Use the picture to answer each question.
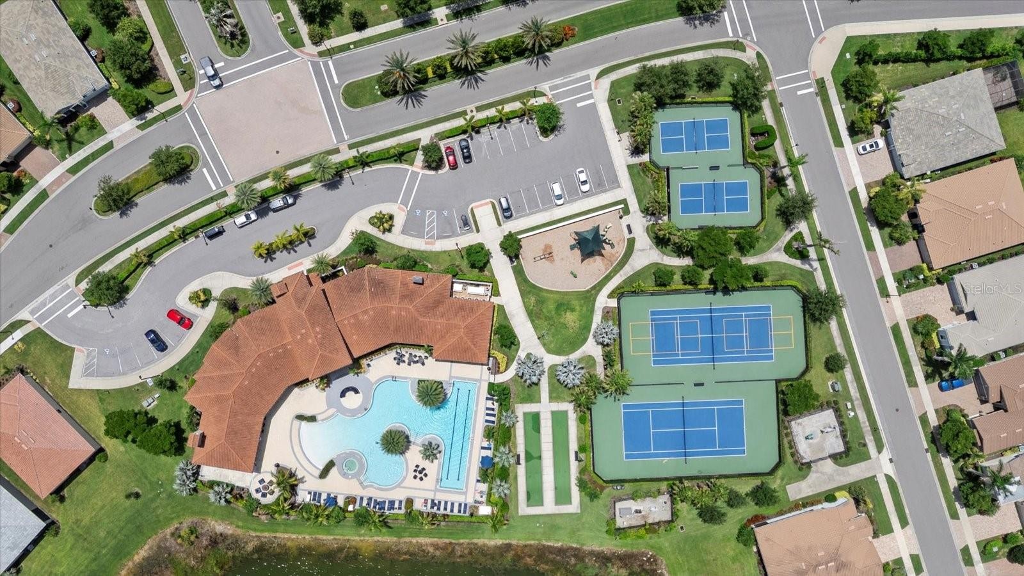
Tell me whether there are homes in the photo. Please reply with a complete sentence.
Yes, looking at the shot, I can spot a home.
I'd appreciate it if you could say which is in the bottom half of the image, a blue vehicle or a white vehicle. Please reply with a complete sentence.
It is a blue vehicle that can be seen in the bottom half of the image.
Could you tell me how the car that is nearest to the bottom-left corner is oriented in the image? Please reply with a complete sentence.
From this overhead view, the car that is nearest to the bottom-left corner appears to run on a diagonal.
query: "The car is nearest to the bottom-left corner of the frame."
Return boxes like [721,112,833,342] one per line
[144,329,167,352]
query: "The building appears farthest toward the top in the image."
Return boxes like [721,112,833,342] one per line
[0,0,115,119]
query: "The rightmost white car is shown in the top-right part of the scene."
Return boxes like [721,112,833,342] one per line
[856,139,883,155]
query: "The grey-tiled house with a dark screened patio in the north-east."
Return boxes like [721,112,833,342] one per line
[885,60,1024,179]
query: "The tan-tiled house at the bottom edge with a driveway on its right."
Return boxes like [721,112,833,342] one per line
[752,499,886,576]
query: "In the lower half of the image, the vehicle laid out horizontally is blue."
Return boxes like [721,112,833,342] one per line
[940,376,975,392]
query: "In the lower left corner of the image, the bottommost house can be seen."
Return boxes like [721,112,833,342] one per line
[0,461,53,573]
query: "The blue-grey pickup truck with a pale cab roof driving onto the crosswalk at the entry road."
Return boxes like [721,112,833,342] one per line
[200,55,223,89]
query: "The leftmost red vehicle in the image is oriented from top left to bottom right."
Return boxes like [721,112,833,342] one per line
[167,309,194,329]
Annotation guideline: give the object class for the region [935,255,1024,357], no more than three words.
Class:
house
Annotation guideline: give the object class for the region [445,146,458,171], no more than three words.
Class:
vehicle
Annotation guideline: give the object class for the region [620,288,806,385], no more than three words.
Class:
tennis court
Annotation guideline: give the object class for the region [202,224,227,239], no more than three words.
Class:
car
